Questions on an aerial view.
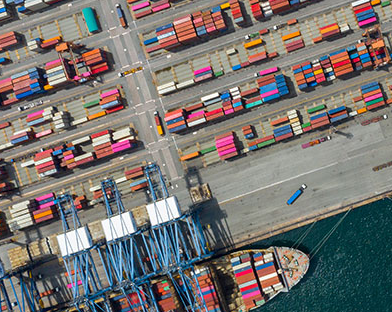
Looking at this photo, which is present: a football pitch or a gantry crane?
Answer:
gantry crane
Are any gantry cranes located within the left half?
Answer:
Yes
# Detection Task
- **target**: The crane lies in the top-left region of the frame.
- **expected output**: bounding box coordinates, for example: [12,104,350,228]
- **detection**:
[52,40,93,86]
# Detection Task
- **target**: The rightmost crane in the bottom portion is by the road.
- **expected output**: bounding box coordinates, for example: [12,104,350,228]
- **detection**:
[141,163,215,312]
